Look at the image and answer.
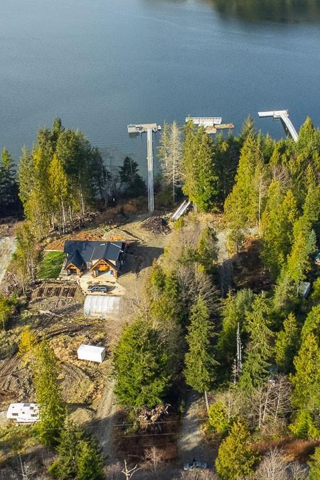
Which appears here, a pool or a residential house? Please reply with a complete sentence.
The one in the frame is a residential house.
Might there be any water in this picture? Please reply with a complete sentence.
Yes, water shows up in the scene.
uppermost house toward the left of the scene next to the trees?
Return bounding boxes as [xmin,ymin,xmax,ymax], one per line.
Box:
[62,235,129,281]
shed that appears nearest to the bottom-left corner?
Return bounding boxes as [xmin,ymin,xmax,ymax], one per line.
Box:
[77,342,108,363]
